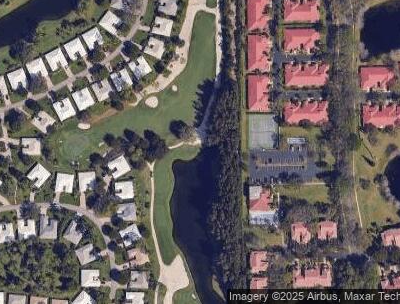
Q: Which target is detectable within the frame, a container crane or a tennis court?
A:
tennis court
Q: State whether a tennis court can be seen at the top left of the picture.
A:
No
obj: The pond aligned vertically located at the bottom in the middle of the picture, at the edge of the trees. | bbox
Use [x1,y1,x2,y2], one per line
[170,145,224,304]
